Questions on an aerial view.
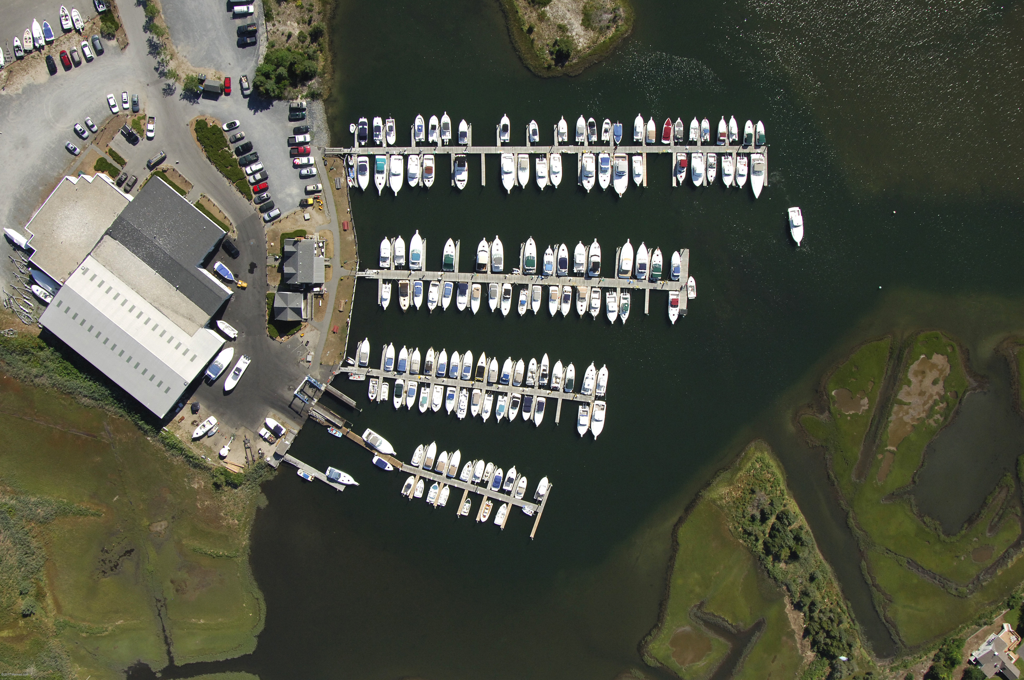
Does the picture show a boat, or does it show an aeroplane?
boat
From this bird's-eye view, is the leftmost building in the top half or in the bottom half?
top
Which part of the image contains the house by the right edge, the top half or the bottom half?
bottom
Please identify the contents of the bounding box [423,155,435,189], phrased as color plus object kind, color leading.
white boat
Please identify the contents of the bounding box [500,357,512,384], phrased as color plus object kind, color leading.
white boat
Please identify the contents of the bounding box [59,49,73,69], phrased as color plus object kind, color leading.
red car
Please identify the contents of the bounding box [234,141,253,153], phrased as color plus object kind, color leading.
black vehicle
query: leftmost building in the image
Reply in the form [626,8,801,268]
[25,173,133,286]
